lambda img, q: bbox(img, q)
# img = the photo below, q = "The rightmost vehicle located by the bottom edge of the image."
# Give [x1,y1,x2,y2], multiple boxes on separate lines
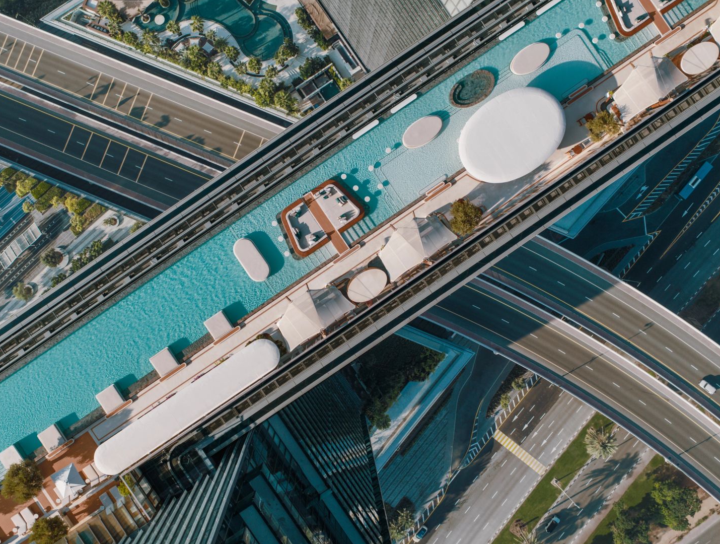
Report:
[546,515,559,533]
